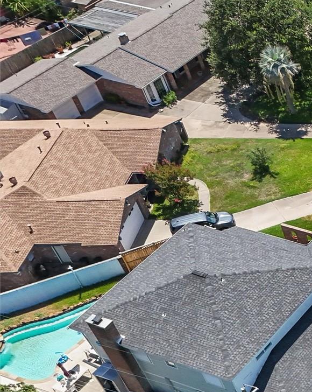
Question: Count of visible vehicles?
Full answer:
Only 1 vehicle is visible.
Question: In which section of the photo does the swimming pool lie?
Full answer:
The swimming pool is in the bottom left part of the image.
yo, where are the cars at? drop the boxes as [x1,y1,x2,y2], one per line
[169,206,231,233]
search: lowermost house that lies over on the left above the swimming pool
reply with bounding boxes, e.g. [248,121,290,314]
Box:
[0,118,184,292]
